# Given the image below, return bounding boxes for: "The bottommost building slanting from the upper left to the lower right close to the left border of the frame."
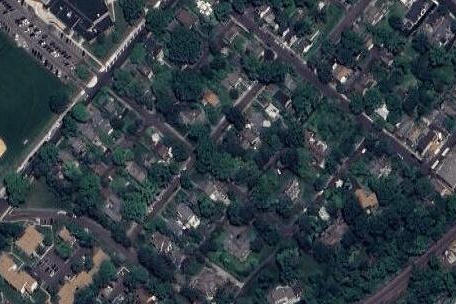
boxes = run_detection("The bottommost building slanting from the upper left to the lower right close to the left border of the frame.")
[0,252,40,298]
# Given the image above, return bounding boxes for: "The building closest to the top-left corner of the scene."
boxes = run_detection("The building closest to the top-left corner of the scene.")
[51,0,113,45]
